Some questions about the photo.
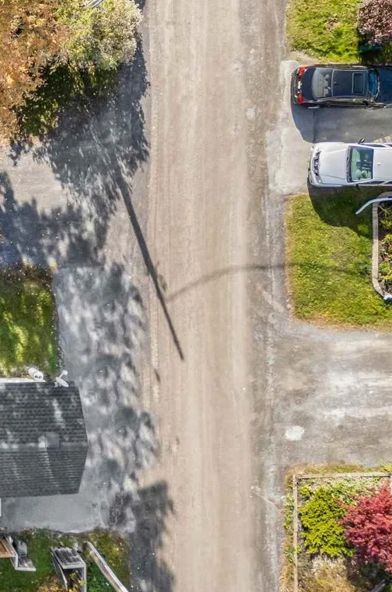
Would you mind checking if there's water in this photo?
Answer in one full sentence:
No, the scene doesn't show any water.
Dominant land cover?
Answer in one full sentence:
The bulk of the photo consists of paved ground.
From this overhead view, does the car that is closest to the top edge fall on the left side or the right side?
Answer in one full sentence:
The car that is closest to the top edge sits on the right side.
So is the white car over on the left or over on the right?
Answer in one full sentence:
The white car appears in the right half of the scene.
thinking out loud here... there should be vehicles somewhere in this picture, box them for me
[304,134,392,194]
[289,57,392,115]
